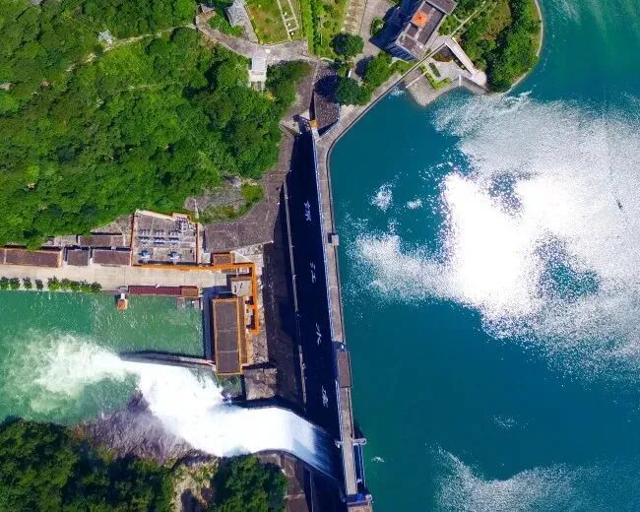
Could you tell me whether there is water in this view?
Yes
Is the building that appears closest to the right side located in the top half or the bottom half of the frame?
top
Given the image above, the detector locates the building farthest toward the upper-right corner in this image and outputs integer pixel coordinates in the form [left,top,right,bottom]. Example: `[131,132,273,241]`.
[388,0,457,62]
